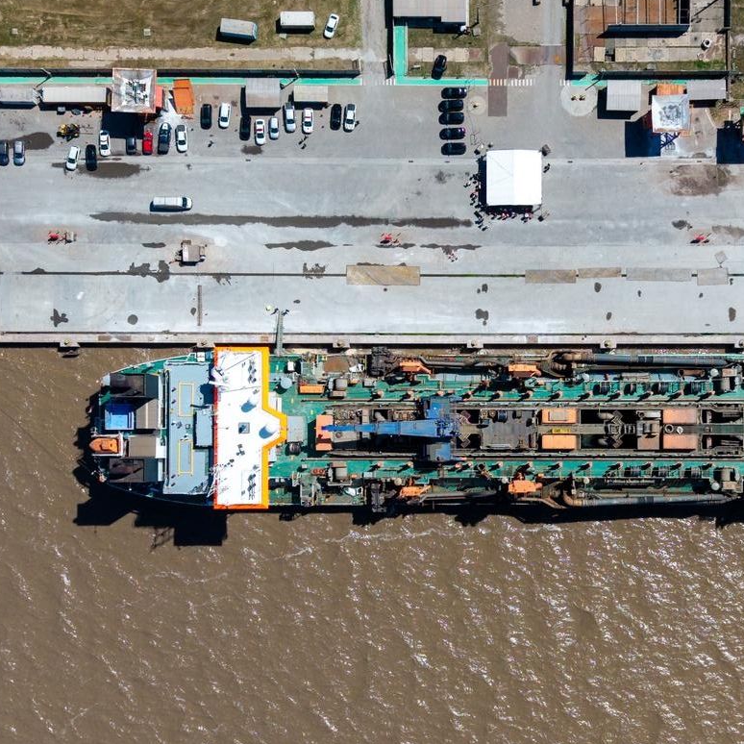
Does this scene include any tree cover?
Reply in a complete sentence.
No, tree cover can't be seen anywhere here.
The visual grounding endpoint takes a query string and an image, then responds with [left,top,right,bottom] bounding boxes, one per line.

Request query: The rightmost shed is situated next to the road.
[684,79,726,102]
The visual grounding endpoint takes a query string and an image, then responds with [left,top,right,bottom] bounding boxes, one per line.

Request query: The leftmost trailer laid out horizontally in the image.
[0,88,41,103]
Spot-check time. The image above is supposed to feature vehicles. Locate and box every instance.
[253,119,266,145]
[125,134,138,158]
[175,122,188,155]
[438,112,464,125]
[440,86,467,98]
[282,102,296,133]
[199,103,212,131]
[440,127,467,140]
[268,116,281,142]
[343,102,356,133]
[301,108,314,136]
[157,124,172,155]
[151,196,191,210]
[98,130,112,157]
[239,114,252,142]
[84,144,98,172]
[65,146,80,172]
[217,101,232,130]
[440,142,467,155]
[324,12,340,41]
[58,125,89,139]
[438,98,466,112]
[0,139,10,167]
[329,103,343,131]
[12,142,25,166]
[432,53,448,80]
[142,125,155,156]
